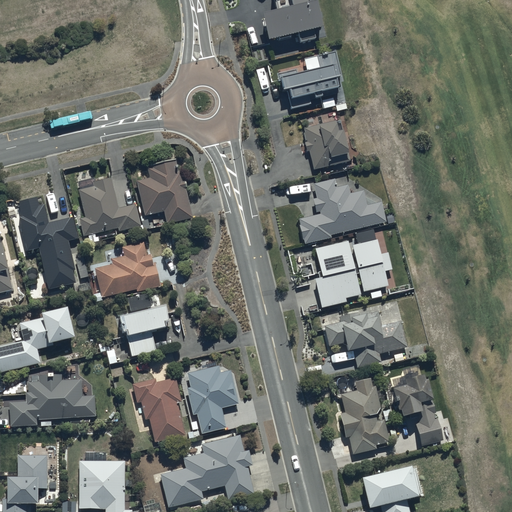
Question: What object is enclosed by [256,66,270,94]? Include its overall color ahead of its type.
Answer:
white camper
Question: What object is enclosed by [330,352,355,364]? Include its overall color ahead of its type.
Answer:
white vehicle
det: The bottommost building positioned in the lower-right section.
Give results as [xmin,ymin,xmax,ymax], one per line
[364,466,421,512]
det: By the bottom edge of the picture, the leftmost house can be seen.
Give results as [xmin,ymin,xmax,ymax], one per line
[1,455,48,512]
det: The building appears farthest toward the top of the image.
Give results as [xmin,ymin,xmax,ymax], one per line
[265,0,324,42]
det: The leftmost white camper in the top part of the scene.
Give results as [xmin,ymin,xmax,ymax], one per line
[46,190,58,213]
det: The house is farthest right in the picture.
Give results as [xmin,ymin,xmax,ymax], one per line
[394,375,444,448]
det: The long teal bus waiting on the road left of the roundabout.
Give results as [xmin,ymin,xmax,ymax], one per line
[49,108,94,129]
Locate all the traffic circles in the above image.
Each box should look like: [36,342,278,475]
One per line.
[160,56,242,148]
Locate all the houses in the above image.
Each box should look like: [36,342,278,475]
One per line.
[78,461,125,512]
[340,378,392,453]
[300,178,388,244]
[95,242,161,296]
[118,304,169,357]
[0,238,12,294]
[278,50,342,109]
[304,121,352,170]
[364,466,421,512]
[18,196,78,290]
[326,310,409,372]
[133,378,188,442]
[78,176,140,238]
[0,306,74,372]
[1,455,48,512]
[8,374,96,428]
[136,159,190,222]
[188,366,238,434]
[394,375,444,448]
[265,0,324,42]
[160,435,254,509]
